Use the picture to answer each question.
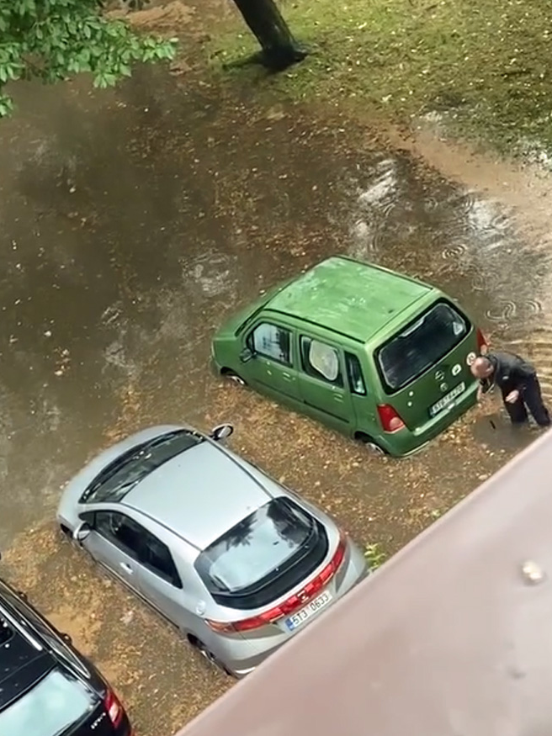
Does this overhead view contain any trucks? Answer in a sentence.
No, there's no truck here.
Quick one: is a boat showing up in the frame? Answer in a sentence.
No, there appears to be no boat in this shot.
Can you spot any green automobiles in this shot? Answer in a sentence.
Yes, this view includes a green automobile.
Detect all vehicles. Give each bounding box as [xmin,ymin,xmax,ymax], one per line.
[63,422,362,673]
[0,585,138,736]
[217,257,480,453]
